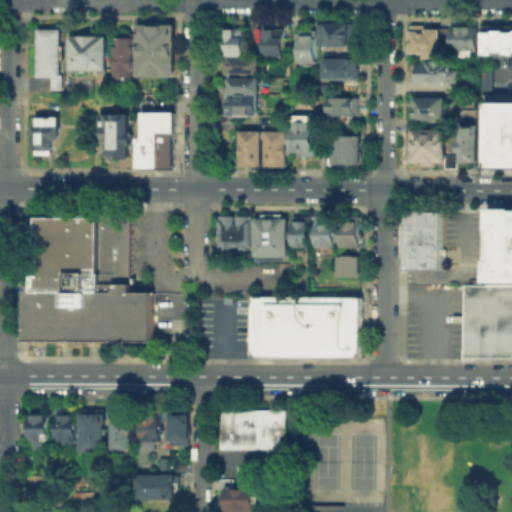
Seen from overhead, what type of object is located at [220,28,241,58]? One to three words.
house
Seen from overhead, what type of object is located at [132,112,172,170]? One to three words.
building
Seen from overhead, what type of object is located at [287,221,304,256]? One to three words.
house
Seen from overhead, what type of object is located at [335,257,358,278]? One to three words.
building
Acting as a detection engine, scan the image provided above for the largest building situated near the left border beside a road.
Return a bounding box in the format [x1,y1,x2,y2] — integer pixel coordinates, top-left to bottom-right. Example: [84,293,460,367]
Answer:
[19,218,158,343]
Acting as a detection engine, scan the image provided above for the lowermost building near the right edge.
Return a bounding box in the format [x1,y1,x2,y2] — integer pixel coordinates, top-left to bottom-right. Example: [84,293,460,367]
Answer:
[463,284,512,360]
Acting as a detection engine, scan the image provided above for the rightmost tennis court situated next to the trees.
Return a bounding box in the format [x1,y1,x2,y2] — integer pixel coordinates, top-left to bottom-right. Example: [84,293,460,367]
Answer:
[346,420,386,502]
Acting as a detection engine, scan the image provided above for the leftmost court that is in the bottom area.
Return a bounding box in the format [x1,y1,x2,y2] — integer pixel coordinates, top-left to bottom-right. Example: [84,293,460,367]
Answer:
[306,420,346,502]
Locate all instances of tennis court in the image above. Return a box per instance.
[306,420,346,502]
[346,420,386,502]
